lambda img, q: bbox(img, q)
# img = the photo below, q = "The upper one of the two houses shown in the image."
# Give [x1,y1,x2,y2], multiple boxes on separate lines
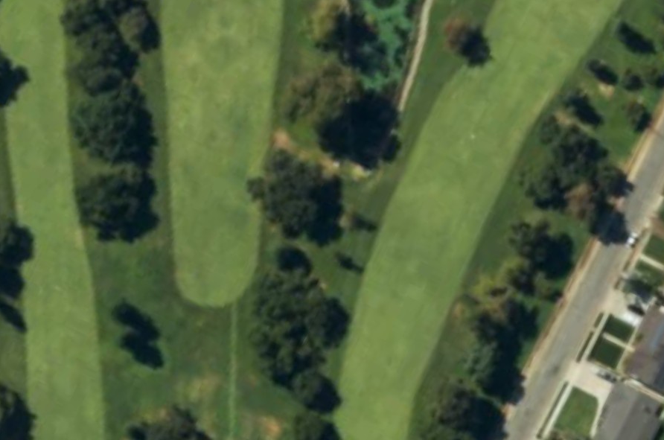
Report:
[620,306,664,393]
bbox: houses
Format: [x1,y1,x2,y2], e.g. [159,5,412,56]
[620,306,664,393]
[590,382,663,440]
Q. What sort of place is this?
golf course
